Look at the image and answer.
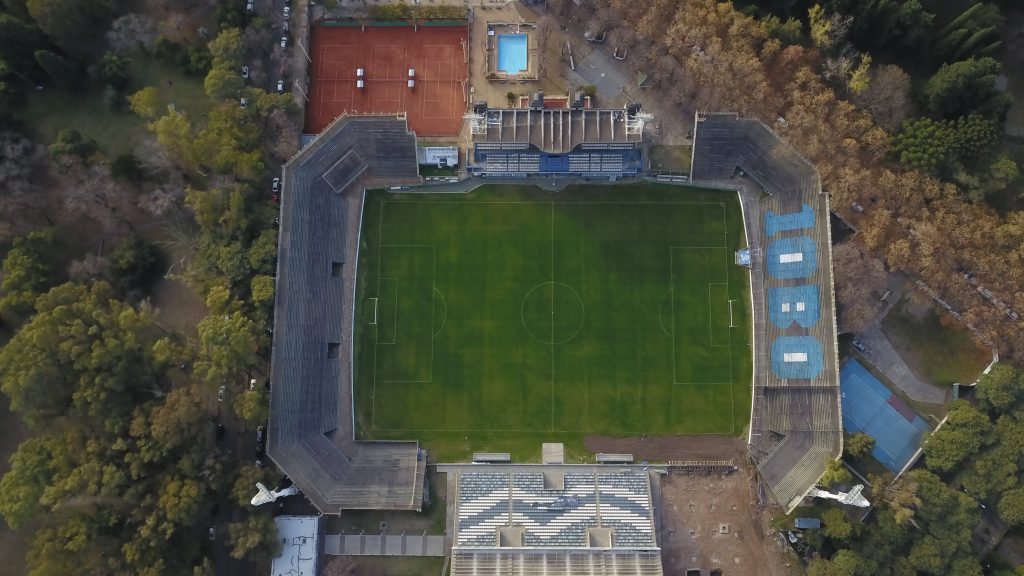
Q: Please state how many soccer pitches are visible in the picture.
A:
1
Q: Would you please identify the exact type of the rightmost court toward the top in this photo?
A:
tennis court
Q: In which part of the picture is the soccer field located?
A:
center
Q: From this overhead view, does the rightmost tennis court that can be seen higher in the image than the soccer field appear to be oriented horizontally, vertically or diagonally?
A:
vertically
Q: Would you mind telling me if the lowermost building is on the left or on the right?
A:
left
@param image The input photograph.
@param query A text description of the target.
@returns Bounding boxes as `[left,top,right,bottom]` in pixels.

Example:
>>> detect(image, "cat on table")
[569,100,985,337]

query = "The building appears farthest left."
[272,513,323,576]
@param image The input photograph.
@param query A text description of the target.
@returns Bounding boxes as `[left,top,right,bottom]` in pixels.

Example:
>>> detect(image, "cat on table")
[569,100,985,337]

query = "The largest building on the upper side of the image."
[419,147,458,170]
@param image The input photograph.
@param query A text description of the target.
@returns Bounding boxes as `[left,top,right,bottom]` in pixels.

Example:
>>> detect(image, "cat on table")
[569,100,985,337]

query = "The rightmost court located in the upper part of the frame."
[414,31,465,130]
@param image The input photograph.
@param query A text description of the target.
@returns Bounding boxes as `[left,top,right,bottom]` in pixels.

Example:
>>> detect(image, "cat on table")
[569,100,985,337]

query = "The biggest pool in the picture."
[491,29,533,76]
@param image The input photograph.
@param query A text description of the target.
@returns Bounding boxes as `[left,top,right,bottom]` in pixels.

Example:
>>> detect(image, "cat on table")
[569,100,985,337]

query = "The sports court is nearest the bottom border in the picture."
[839,358,928,468]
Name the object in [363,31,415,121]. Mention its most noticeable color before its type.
red tennis court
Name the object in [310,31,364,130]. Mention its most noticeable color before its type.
red tennis court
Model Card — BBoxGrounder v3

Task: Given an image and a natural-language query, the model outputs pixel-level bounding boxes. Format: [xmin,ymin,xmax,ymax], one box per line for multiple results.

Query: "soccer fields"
[352,186,750,465]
